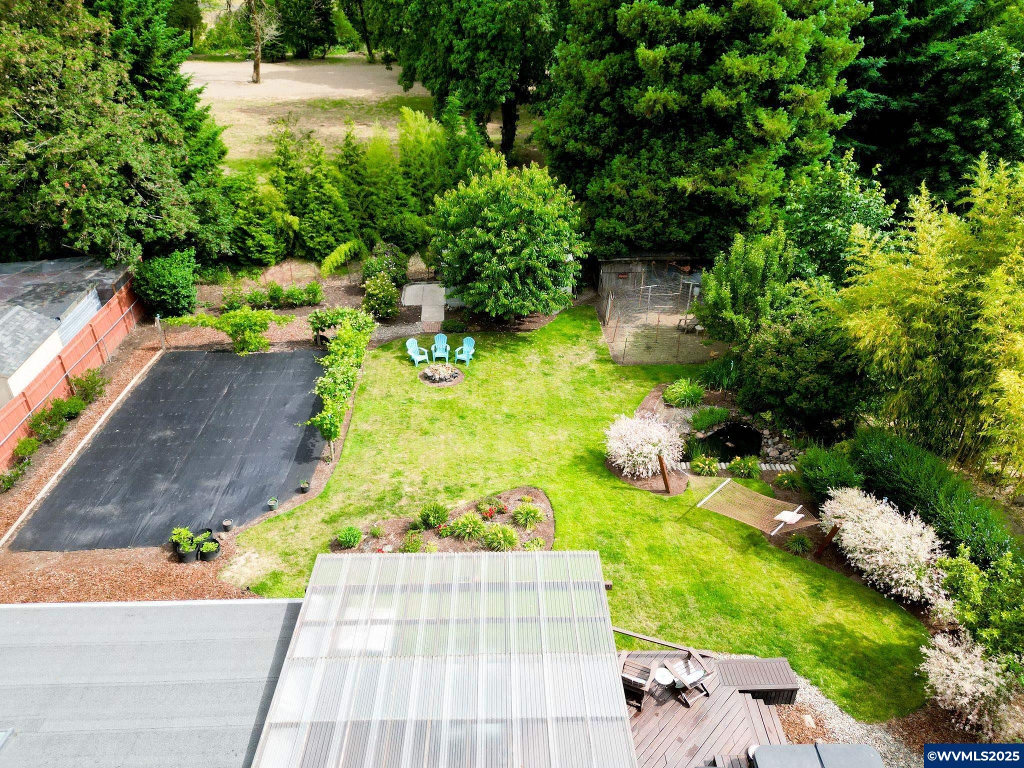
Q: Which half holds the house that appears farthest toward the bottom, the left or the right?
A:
left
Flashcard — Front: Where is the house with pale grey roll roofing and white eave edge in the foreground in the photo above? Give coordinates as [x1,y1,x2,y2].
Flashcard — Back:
[0,600,301,768]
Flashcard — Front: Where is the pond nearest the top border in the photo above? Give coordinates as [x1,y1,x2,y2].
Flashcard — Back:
[675,409,808,467]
